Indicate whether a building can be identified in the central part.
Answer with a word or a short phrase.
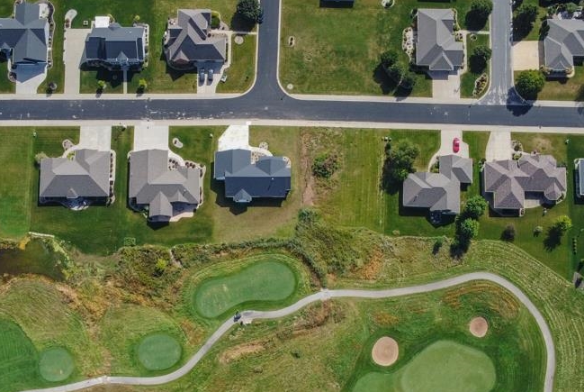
Yes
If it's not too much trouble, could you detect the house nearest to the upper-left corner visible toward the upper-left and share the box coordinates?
[0,0,48,63]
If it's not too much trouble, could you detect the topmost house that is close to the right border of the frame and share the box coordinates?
[542,19,584,71]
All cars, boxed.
[451,137,459,152]
[198,68,205,83]
[207,68,214,82]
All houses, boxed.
[403,153,473,213]
[39,148,110,198]
[542,19,584,71]
[417,8,465,71]
[0,0,48,63]
[168,9,226,63]
[82,23,144,63]
[129,149,199,216]
[214,148,291,202]
[484,154,566,208]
